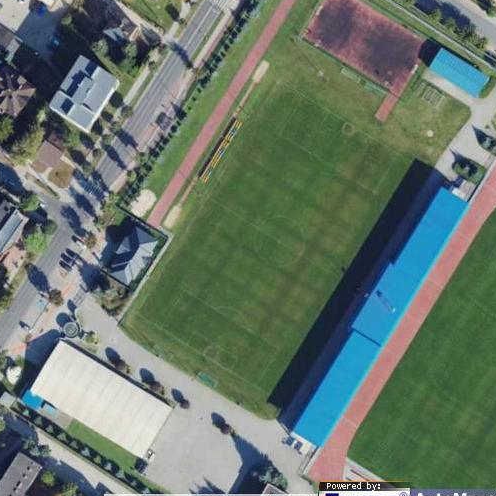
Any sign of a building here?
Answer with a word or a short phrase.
Yes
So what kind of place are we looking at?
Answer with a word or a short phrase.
sports ground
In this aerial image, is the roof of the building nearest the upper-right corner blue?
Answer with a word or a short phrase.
Yes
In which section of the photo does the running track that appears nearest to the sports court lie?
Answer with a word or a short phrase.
top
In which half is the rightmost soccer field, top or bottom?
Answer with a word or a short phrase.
bottom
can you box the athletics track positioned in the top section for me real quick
[147,0,295,229]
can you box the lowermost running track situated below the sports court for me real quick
[314,165,496,494]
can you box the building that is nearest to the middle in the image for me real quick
[109,222,160,287]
